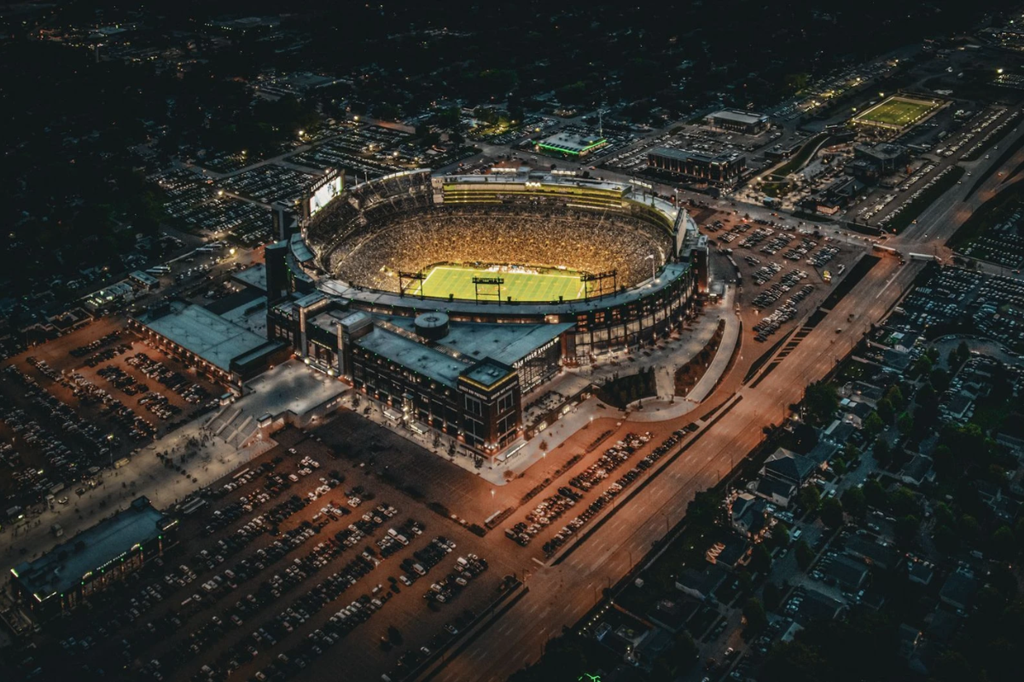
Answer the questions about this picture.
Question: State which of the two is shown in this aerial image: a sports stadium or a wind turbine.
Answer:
sports stadium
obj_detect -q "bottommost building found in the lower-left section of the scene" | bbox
[17,498,177,616]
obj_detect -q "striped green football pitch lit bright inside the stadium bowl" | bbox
[409,266,592,302]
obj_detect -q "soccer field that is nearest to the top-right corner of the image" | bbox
[846,93,951,130]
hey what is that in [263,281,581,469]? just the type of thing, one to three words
building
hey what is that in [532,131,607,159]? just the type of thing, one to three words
building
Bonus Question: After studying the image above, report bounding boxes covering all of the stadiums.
[288,161,703,358]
